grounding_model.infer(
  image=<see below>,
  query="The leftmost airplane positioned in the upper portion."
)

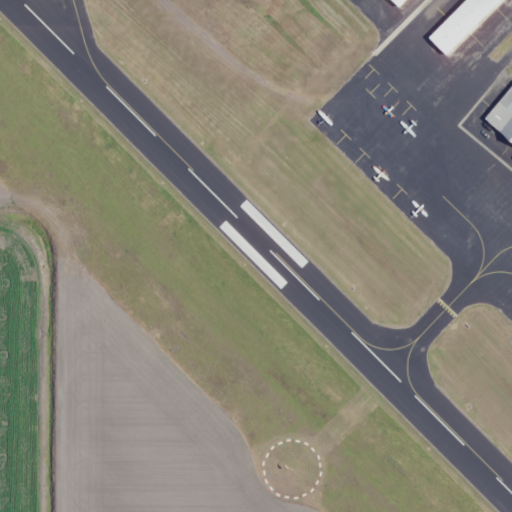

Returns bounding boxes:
[317,109,333,126]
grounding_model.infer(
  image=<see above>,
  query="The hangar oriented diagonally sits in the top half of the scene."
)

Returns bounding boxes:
[428,0,505,57]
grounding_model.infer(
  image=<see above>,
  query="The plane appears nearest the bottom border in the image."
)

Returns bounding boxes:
[412,200,428,217]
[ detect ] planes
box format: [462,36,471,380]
[400,120,418,137]
[382,104,395,118]
[317,109,333,126]
[412,200,428,217]
[372,165,389,182]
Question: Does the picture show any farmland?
Yes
